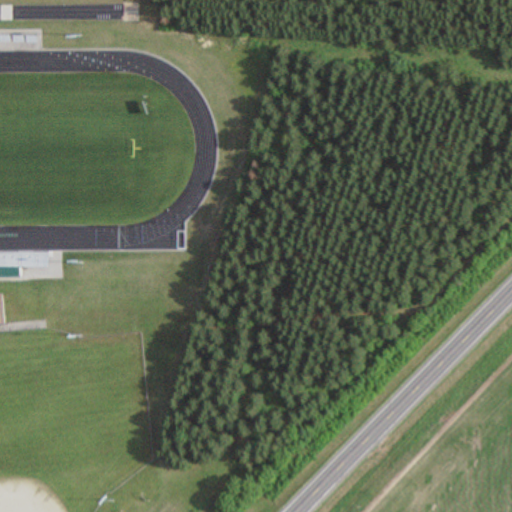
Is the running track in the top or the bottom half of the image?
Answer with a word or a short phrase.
top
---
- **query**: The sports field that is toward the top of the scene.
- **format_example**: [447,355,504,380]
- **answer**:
[0,74,194,224]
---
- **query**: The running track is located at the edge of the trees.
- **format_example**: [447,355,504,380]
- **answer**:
[0,50,218,250]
